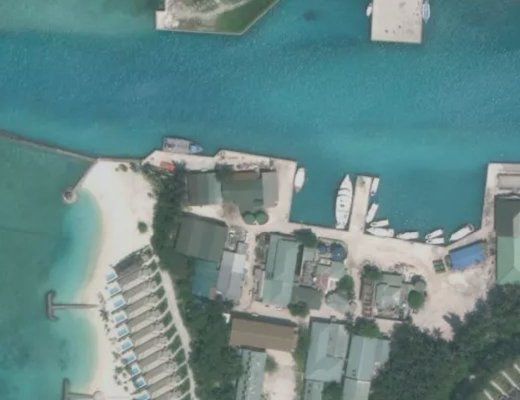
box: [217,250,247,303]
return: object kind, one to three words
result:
shed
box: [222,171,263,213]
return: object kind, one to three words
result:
building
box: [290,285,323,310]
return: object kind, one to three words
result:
house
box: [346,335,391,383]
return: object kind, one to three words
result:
building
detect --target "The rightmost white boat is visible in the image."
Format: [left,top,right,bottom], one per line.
[450,224,475,241]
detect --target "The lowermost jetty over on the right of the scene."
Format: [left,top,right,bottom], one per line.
[349,176,371,234]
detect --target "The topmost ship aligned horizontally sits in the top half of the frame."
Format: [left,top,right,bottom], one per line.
[162,138,204,154]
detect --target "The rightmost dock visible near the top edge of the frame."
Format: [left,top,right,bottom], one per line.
[371,0,422,43]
